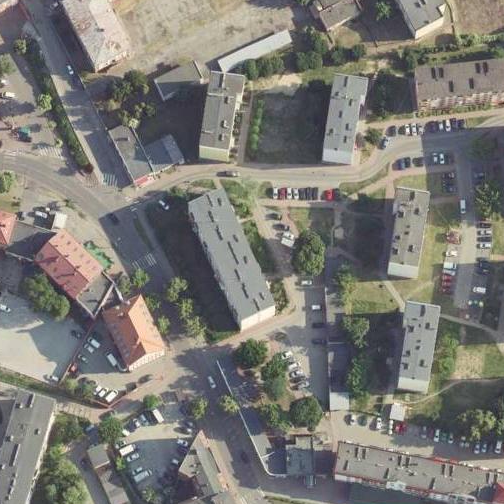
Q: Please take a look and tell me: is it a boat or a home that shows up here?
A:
home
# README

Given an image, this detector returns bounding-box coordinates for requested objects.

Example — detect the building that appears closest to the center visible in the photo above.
[188,189,275,331]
